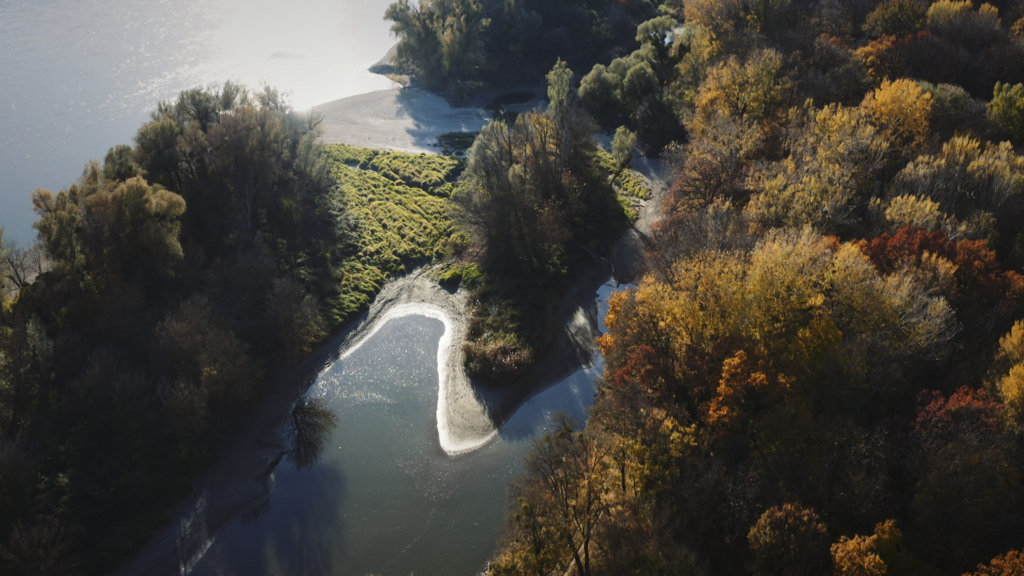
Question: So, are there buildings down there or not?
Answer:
No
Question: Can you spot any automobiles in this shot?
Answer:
No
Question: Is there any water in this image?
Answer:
Yes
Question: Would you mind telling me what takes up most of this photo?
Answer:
trees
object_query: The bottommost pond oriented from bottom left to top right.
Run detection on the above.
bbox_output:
[183,278,629,576]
